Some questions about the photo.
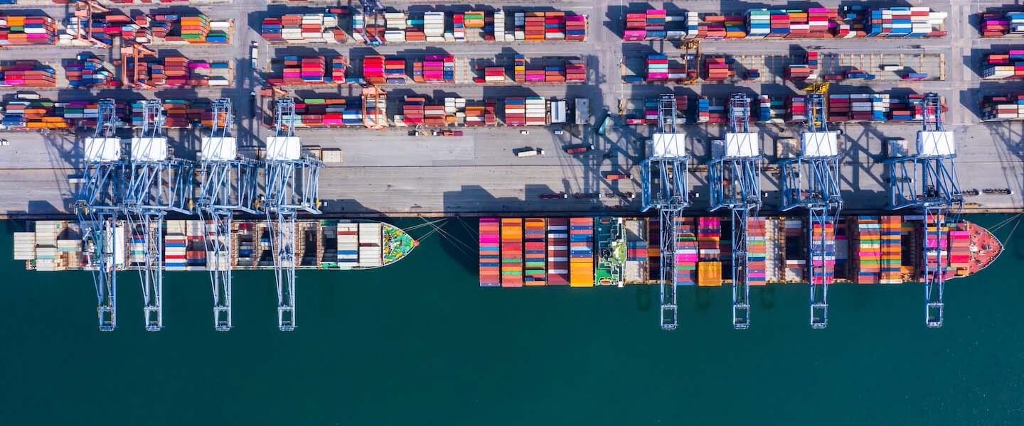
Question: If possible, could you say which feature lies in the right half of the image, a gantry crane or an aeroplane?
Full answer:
You can see a gantry crane in the right half of the image.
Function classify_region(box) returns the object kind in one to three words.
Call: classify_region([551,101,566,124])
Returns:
shed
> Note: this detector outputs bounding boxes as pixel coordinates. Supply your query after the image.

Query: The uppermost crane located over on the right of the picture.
[674,33,700,86]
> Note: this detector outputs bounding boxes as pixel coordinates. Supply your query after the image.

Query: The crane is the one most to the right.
[873,90,967,326]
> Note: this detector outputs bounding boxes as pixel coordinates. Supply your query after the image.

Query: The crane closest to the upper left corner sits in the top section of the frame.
[73,0,111,50]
